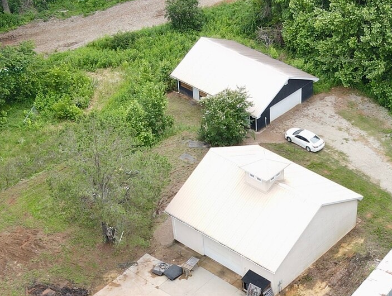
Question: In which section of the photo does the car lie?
right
